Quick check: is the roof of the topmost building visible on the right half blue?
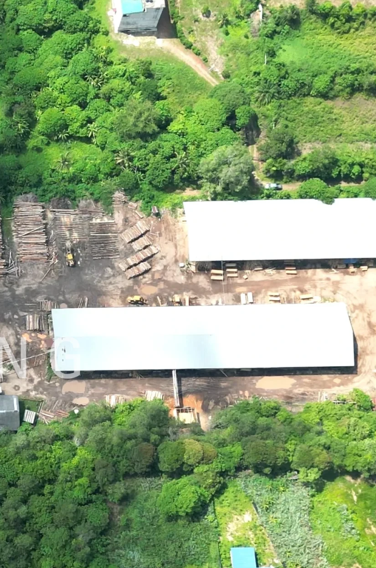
No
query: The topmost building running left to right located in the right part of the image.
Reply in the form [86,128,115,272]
[179,198,376,273]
